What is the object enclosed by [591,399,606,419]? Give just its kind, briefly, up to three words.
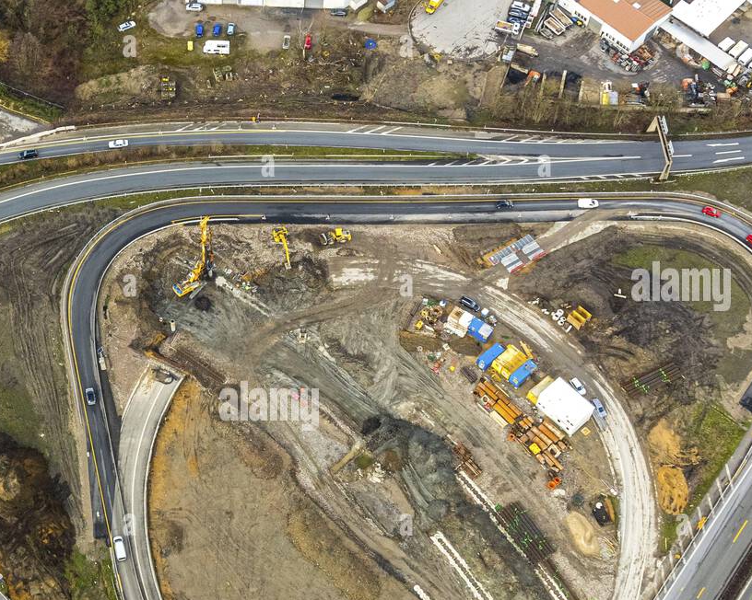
car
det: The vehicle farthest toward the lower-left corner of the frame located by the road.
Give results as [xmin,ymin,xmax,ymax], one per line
[112,537,125,560]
